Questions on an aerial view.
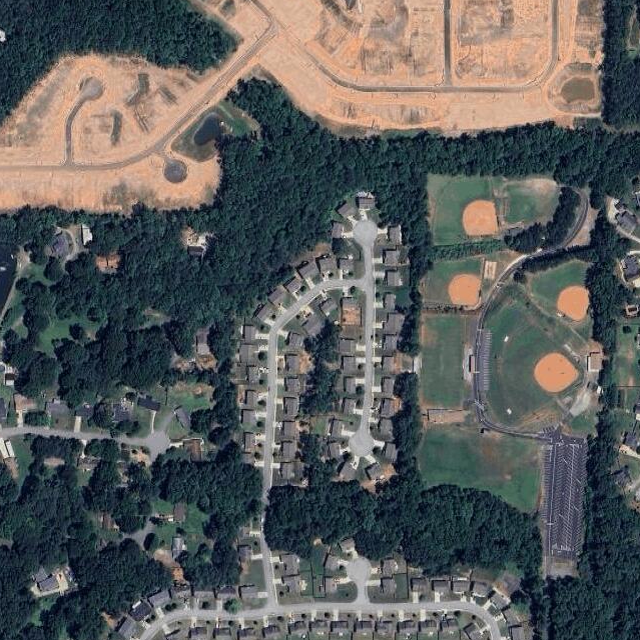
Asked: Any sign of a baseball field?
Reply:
Yes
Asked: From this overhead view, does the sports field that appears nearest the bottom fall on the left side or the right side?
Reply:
right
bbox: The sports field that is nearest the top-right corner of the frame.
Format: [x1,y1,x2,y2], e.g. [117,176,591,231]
[501,176,559,229]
